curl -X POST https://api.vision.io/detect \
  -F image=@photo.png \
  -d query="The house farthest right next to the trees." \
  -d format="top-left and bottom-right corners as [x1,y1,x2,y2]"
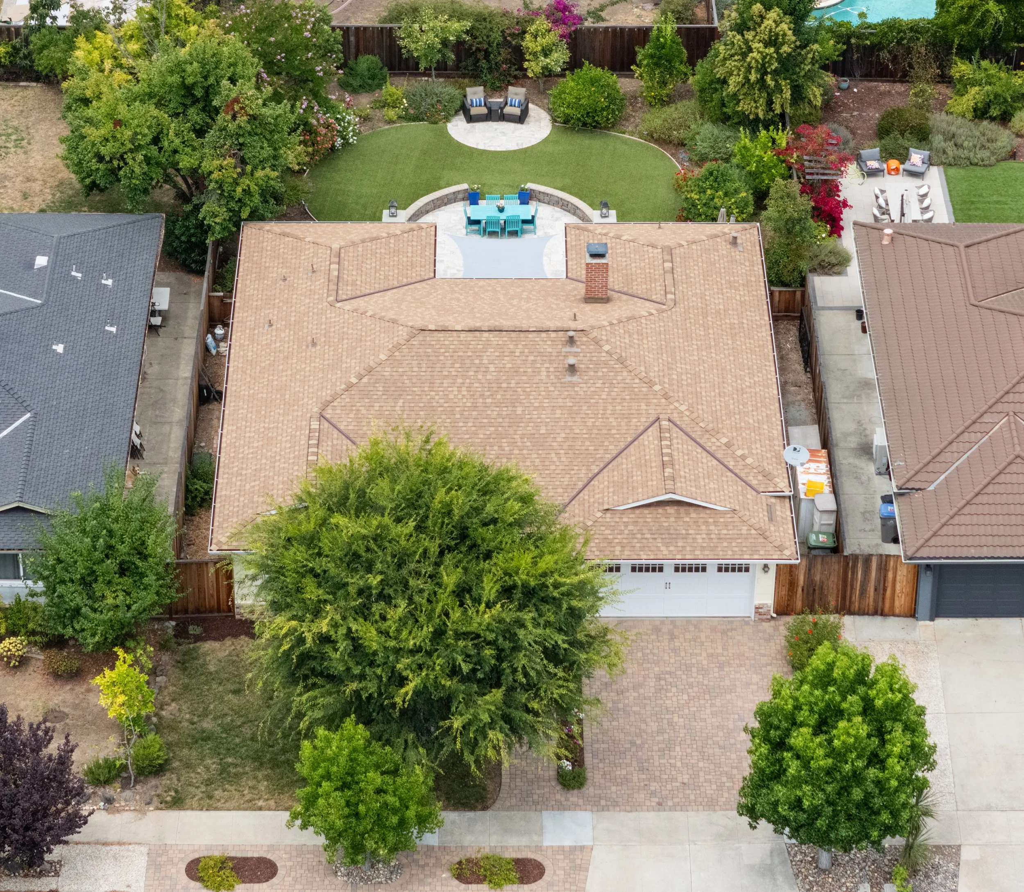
[848,218,1024,615]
